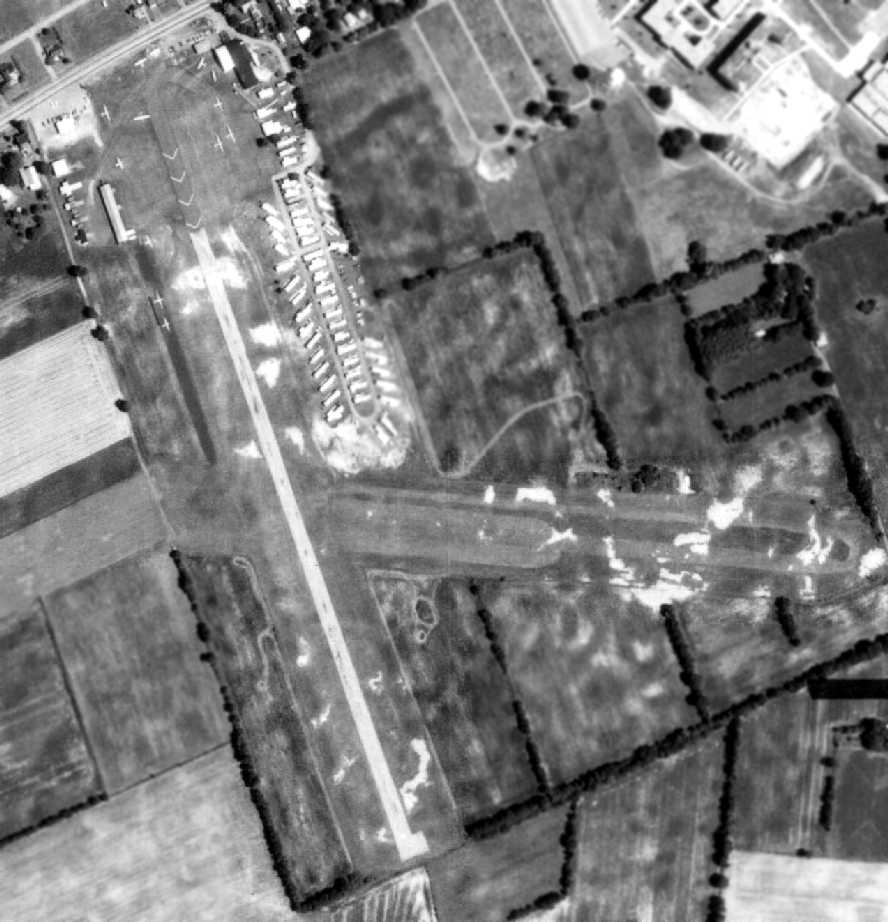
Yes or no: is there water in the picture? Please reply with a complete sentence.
No, the scene doesn't show any water.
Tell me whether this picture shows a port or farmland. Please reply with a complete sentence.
What you see here is farmland.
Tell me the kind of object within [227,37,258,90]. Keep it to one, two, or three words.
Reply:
hangar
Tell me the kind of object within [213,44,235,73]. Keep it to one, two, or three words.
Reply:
hangar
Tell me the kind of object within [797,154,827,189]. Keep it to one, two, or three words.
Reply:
shed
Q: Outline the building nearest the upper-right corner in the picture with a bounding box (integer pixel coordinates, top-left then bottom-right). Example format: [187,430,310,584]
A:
[852,50,888,134]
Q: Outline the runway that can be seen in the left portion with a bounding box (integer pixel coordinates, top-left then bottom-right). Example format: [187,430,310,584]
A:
[191,229,429,861]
